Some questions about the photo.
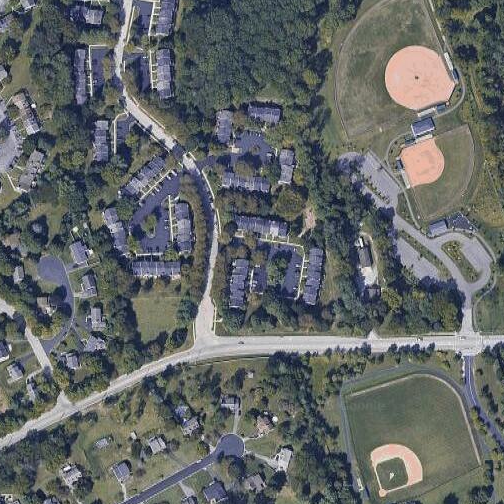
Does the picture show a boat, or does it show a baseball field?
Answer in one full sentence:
This aerial view contains a baseball field.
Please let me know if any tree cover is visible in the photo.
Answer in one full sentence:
Yes, tree cover shows up in the scene.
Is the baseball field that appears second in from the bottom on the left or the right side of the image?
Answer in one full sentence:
The baseball field that appears second in from the bottom is on the right side of the image.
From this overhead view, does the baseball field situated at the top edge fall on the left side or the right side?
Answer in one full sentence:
The baseball field situated at the top edge appears in the right half of the scene.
